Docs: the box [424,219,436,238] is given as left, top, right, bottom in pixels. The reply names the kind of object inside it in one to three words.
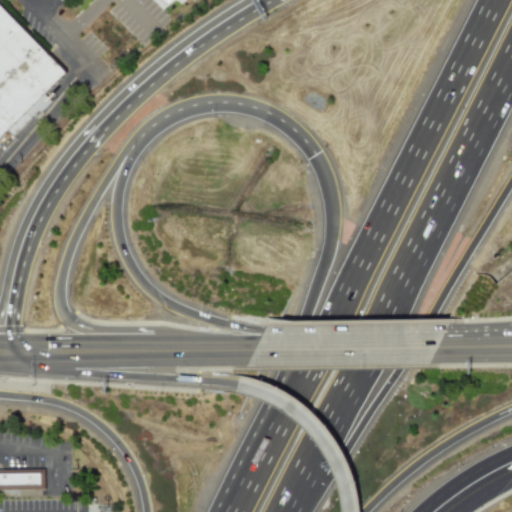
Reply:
vehicle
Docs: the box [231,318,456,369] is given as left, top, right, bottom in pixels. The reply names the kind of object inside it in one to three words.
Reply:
overpass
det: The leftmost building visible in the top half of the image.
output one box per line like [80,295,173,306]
[0,5,66,137]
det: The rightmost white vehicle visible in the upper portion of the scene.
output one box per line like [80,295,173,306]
[499,102,511,119]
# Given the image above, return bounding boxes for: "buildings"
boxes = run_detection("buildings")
[0,5,66,137]
[154,0,182,12]
[0,468,48,488]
